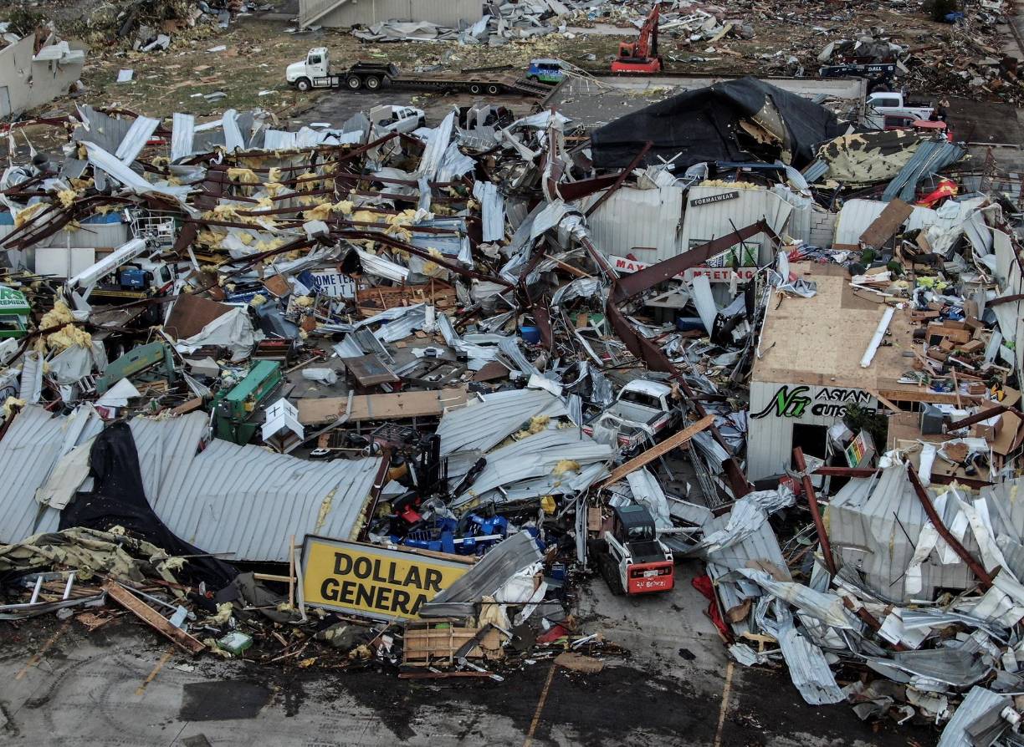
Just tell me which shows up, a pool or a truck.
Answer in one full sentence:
This aerial view contains a truck.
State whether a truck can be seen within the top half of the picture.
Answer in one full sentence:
Yes, a truck appears within the top half of the picture.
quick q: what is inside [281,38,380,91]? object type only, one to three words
truck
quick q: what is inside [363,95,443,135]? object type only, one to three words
truck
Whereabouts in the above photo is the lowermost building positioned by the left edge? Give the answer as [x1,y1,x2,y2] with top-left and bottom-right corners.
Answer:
[0,27,81,117]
